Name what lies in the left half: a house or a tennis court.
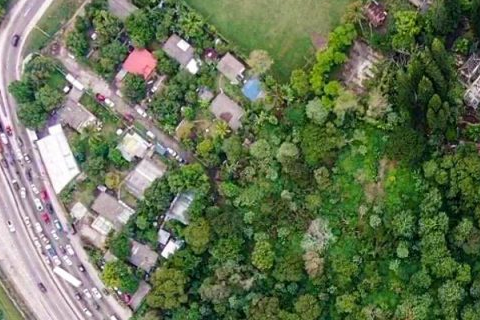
house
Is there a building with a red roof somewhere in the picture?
Yes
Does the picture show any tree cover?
Yes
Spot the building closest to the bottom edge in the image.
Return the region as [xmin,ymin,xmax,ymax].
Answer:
[128,282,152,311]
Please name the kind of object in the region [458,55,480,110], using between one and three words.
house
